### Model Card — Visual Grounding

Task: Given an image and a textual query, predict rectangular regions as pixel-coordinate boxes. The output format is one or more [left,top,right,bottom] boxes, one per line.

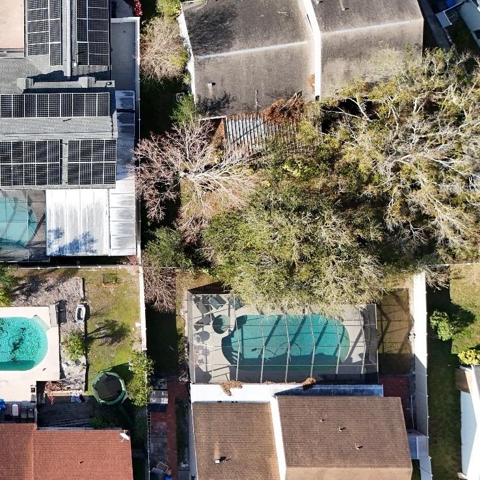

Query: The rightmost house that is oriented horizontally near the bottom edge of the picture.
[186,384,419,480]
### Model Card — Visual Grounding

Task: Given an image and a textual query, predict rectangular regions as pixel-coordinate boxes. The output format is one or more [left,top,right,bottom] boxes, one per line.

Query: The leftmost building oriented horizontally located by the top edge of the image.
[176,0,425,119]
